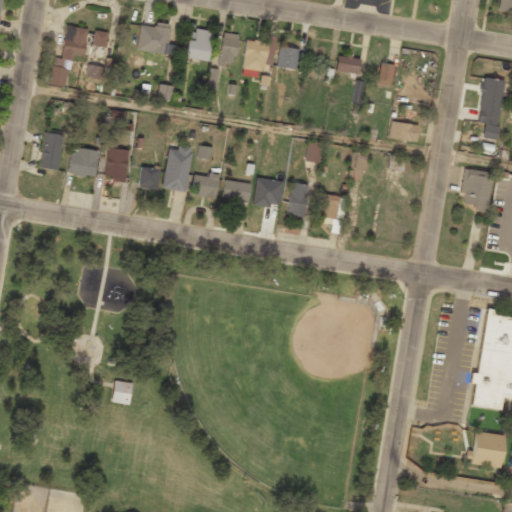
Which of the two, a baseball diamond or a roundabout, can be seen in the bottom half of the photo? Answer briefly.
baseball diamond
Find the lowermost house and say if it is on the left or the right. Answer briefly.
right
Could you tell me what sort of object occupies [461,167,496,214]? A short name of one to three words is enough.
building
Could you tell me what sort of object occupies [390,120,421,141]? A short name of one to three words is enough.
house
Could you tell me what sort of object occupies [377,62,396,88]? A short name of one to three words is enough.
house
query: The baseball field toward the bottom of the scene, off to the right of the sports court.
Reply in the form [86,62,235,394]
[174,273,376,508]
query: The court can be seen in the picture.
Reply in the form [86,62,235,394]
[14,486,84,512]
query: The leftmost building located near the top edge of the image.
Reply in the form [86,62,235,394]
[50,22,89,88]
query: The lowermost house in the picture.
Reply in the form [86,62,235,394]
[468,432,506,468]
